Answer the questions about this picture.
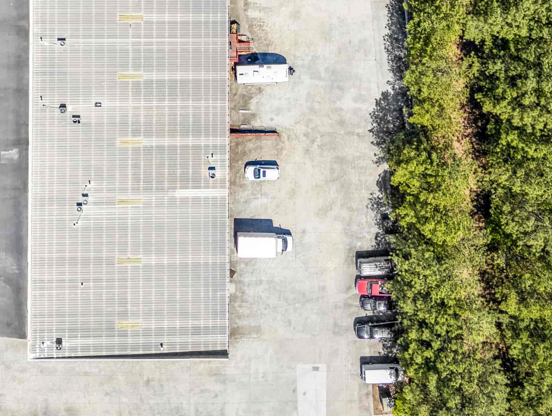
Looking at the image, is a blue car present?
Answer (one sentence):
No, there's no blue car here.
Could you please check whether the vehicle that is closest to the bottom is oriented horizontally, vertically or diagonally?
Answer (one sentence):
The vehicle that is closest to the bottom is oriented horizontally.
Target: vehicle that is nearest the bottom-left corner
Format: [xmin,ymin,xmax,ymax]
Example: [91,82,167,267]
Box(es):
[236,235,292,259]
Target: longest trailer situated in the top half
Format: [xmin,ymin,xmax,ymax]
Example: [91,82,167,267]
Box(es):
[230,64,296,87]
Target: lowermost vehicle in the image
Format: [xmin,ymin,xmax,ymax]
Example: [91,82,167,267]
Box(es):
[361,364,405,387]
